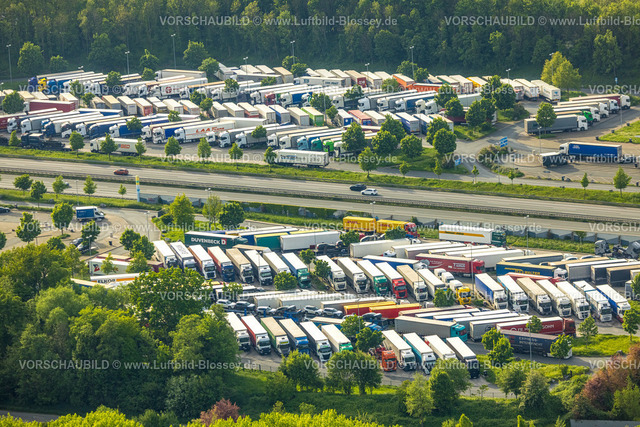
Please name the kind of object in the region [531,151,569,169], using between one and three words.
vehicle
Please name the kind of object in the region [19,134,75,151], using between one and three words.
vehicle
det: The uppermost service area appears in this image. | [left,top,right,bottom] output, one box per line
[0,78,640,191]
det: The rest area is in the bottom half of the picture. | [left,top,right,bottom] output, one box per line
[0,199,640,391]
